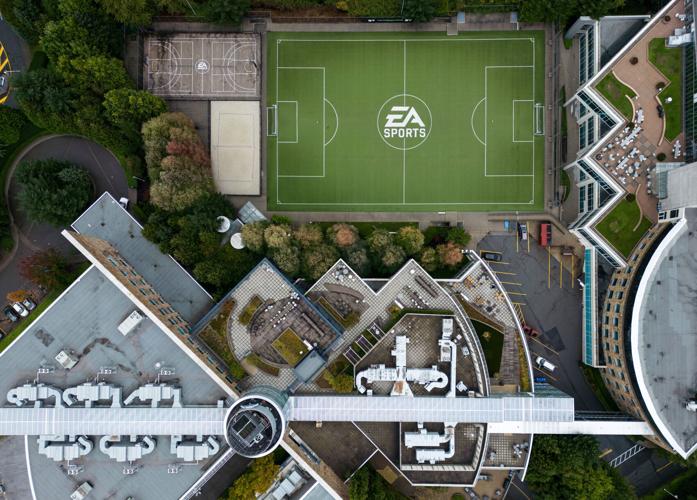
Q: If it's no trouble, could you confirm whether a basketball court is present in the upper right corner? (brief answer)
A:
No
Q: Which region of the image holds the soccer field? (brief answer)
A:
top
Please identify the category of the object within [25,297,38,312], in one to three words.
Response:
vehicle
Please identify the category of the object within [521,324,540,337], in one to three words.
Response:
vehicle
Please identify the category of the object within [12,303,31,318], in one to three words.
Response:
car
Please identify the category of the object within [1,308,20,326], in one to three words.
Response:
car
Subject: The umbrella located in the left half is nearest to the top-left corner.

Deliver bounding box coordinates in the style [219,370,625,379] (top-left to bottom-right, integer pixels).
[216,216,231,232]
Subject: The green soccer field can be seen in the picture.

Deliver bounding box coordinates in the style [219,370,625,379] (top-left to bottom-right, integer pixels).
[267,30,545,212]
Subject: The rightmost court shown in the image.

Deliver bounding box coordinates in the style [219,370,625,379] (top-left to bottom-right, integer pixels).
[210,101,260,195]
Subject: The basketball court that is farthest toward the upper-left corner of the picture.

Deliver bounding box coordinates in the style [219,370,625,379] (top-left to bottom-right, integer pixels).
[144,32,261,95]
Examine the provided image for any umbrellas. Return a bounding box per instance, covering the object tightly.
[230,233,246,249]
[216,216,231,232]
